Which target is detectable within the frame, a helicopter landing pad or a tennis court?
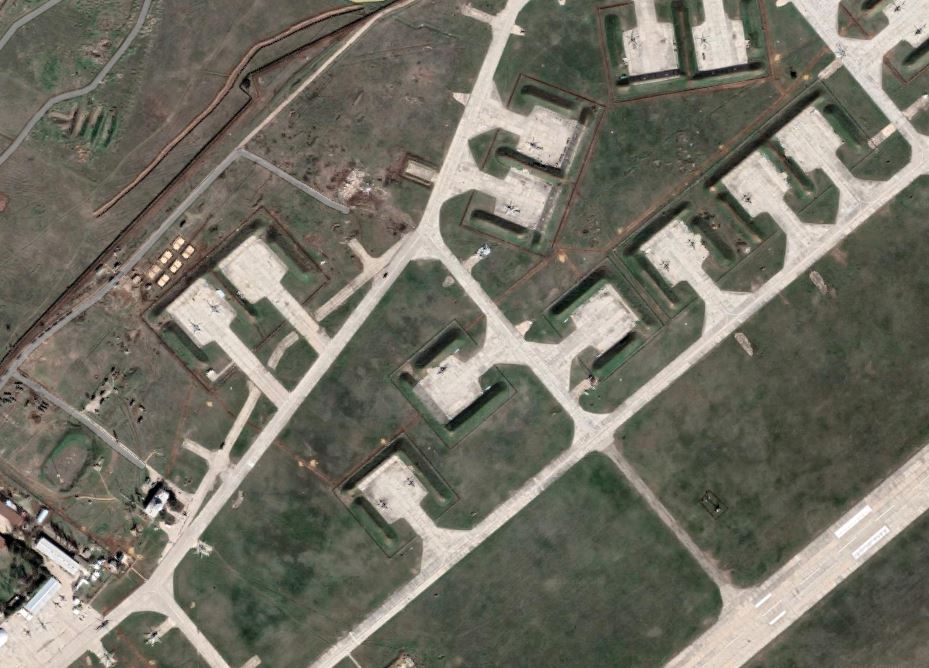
helicopter landing pad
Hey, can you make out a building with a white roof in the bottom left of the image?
Yes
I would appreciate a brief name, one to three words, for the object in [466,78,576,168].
helipad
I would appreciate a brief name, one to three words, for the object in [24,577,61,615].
hangar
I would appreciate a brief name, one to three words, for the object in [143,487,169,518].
building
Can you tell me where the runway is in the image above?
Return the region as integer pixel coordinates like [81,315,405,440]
[662,446,929,668]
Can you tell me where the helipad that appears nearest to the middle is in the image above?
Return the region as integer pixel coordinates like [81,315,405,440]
[421,320,531,418]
